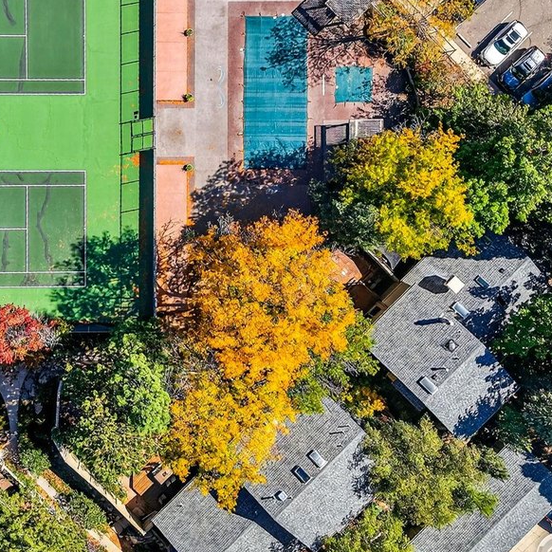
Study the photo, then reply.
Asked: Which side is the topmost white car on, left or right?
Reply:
right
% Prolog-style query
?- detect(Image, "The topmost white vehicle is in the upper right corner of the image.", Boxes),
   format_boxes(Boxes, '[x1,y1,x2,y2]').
[477,20,528,68]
